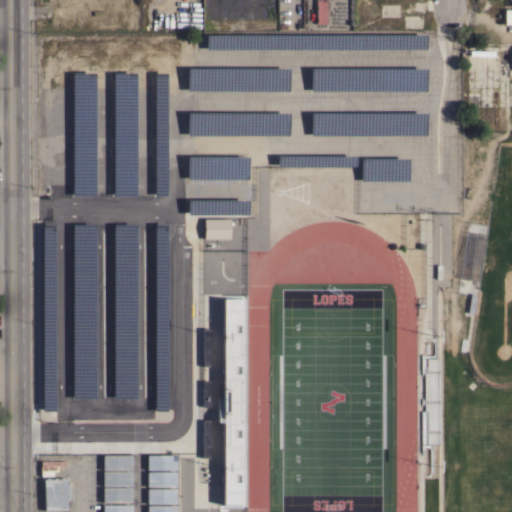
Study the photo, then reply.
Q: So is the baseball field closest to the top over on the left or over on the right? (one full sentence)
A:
The baseball field closest to the top is on the right side of the image.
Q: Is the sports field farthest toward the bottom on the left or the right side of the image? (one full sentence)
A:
You can find the sports field farthest toward the bottom on the right side of the picture.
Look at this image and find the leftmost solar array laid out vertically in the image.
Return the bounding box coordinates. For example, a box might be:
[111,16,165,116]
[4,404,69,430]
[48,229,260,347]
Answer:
[44,226,58,410]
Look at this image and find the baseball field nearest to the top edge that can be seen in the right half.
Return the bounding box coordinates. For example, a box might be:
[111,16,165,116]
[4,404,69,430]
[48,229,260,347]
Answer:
[474,146,512,388]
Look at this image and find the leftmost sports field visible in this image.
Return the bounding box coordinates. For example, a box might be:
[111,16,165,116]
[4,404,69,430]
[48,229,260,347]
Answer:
[270,284,397,512]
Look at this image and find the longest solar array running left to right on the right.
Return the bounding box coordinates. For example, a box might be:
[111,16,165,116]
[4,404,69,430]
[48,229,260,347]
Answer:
[208,35,429,50]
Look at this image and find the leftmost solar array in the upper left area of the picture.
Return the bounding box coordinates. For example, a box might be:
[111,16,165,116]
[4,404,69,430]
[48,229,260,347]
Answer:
[75,74,98,196]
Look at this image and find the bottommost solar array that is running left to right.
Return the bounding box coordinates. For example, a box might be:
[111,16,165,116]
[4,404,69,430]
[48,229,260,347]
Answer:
[190,200,251,216]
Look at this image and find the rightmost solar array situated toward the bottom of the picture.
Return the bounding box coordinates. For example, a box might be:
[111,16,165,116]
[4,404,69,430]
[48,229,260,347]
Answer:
[156,226,170,410]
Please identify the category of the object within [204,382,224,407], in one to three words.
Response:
building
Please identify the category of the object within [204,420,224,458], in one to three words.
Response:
building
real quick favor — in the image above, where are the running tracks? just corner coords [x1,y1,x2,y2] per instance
[248,222,417,512]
